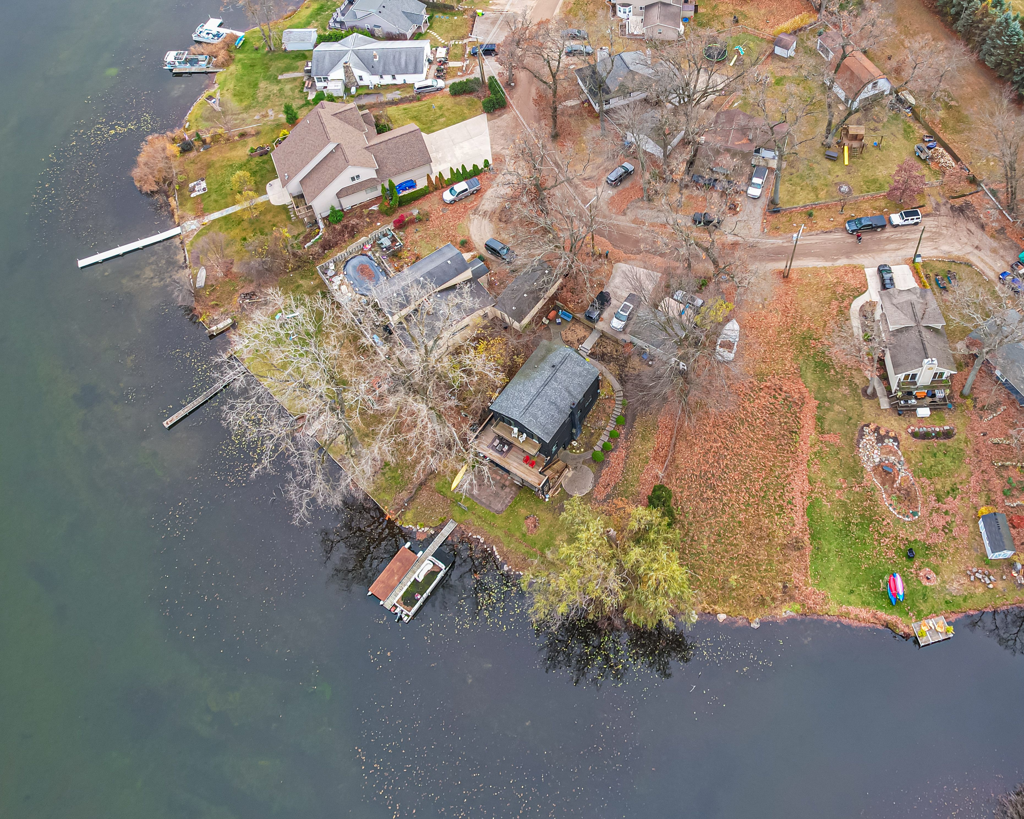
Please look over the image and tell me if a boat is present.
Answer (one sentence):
Yes, a boat can be made out from above.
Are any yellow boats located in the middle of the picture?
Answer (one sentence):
Yes, in the middle of the picture there is a yellow boat.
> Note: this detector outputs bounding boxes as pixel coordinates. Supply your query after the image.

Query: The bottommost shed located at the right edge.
[974,510,1017,562]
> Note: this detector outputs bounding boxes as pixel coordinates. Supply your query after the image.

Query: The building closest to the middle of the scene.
[470,345,608,499]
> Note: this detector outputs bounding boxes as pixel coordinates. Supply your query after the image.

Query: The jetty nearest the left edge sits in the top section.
[77,226,182,270]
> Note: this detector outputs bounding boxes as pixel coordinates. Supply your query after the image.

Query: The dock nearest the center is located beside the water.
[383,519,458,611]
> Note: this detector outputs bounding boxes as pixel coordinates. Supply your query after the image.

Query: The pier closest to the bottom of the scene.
[911,616,954,648]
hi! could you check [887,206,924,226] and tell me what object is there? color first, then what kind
white car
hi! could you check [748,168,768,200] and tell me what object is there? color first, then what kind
white vehicle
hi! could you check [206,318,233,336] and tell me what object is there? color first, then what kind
white boat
